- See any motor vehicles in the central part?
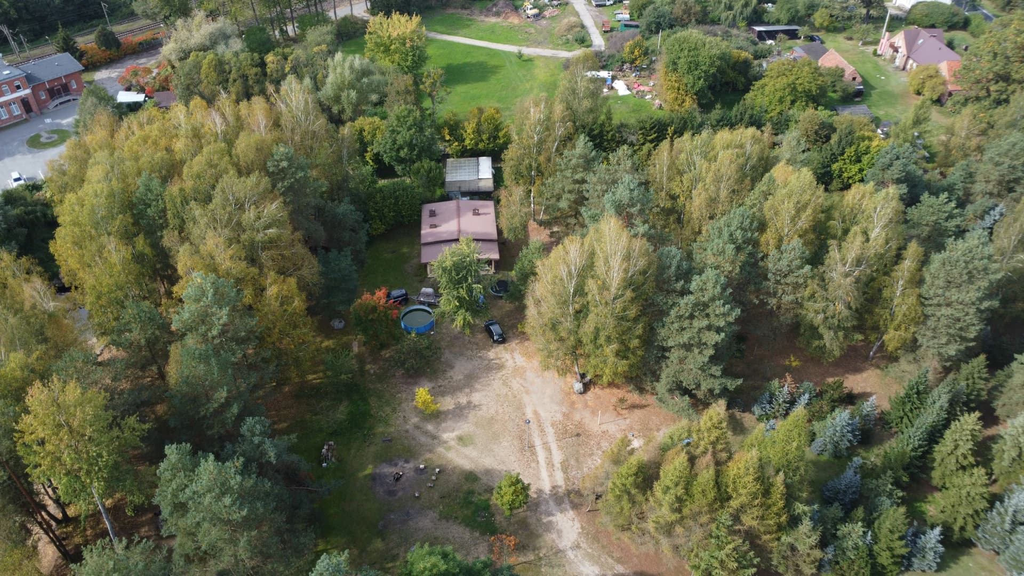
Yes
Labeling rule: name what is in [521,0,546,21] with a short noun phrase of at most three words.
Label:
work vehicle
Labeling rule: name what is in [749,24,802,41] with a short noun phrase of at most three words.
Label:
shed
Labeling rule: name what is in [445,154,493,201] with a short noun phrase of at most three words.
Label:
shed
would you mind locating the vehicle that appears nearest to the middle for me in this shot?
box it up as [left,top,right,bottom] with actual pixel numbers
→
[483,316,507,340]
